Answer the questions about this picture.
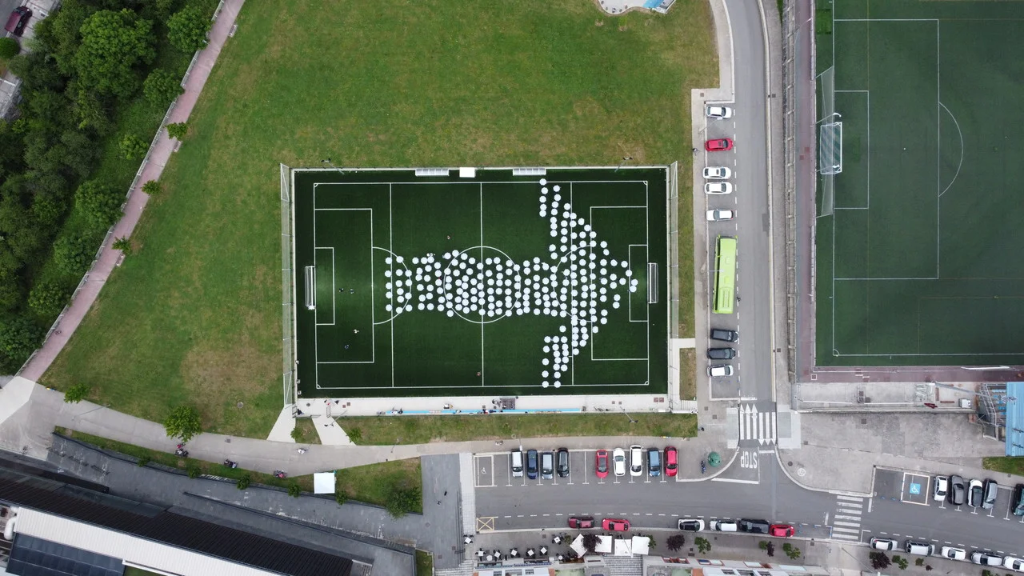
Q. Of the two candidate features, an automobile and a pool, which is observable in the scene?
automobile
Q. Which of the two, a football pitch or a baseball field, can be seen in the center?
football pitch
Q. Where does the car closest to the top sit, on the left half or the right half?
left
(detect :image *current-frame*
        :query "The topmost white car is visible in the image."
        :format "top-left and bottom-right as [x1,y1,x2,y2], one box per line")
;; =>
[705,105,732,119]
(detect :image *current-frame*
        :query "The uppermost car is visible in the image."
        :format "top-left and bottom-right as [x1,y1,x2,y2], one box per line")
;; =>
[3,6,33,36]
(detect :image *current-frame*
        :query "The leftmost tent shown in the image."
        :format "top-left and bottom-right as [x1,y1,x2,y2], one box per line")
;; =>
[314,469,338,493]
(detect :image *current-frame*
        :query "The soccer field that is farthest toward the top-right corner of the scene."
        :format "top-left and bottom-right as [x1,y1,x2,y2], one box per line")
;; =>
[816,0,1024,367]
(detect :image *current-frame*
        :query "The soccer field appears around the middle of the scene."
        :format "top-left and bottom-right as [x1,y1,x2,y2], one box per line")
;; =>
[291,166,671,399]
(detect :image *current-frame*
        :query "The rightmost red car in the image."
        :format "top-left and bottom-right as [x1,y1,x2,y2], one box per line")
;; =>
[769,522,795,537]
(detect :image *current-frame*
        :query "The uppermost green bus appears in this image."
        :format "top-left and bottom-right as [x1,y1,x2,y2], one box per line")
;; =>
[712,234,738,313]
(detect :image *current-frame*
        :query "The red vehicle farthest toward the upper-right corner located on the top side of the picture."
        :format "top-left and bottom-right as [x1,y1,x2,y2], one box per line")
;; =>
[704,138,733,152]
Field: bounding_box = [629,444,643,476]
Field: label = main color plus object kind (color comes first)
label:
white car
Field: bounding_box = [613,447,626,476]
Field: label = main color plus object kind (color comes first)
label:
white vehicle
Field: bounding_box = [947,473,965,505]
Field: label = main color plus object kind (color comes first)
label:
gray car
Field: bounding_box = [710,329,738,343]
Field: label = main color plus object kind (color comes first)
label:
gray car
